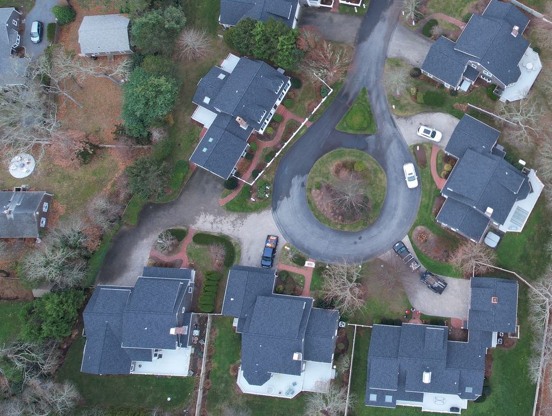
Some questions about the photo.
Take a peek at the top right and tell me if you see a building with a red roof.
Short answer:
No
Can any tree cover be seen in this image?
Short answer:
Yes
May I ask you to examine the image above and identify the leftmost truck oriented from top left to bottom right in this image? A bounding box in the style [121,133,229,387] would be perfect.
[391,237,422,275]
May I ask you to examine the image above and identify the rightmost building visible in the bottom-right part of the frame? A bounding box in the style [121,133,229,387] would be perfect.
[366,277,518,415]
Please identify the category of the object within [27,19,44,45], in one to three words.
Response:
vehicle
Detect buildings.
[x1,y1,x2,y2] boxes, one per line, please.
[421,0,543,104]
[79,13,129,61]
[366,277,518,415]
[81,268,201,377]
[0,185,52,238]
[0,8,36,92]
[220,0,322,34]
[222,263,339,400]
[189,50,293,180]
[436,114,544,250]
